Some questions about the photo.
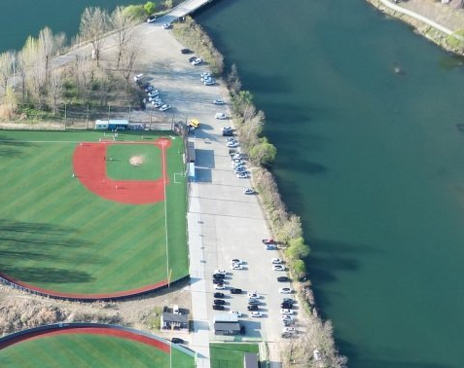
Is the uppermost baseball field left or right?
left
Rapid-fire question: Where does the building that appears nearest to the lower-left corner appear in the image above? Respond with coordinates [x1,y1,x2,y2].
[164,309,189,332]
